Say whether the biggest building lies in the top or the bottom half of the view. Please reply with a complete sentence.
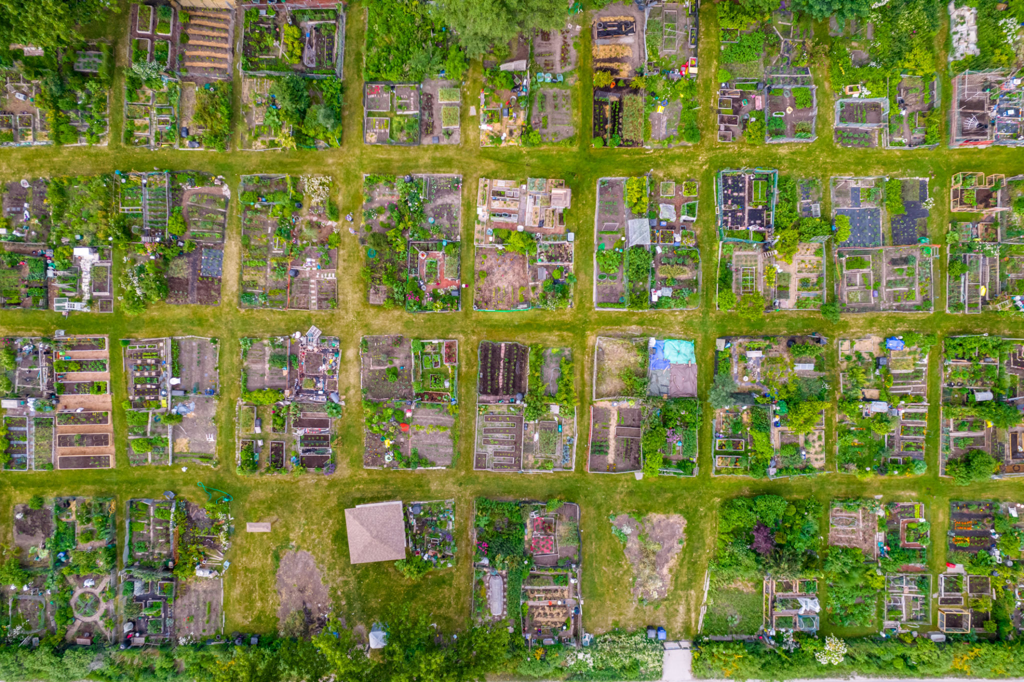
It is in the bottom half that the biggest building appears.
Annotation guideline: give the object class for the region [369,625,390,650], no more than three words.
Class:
gazebo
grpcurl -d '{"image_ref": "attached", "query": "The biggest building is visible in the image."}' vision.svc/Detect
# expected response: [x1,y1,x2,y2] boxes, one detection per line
[344,498,409,565]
